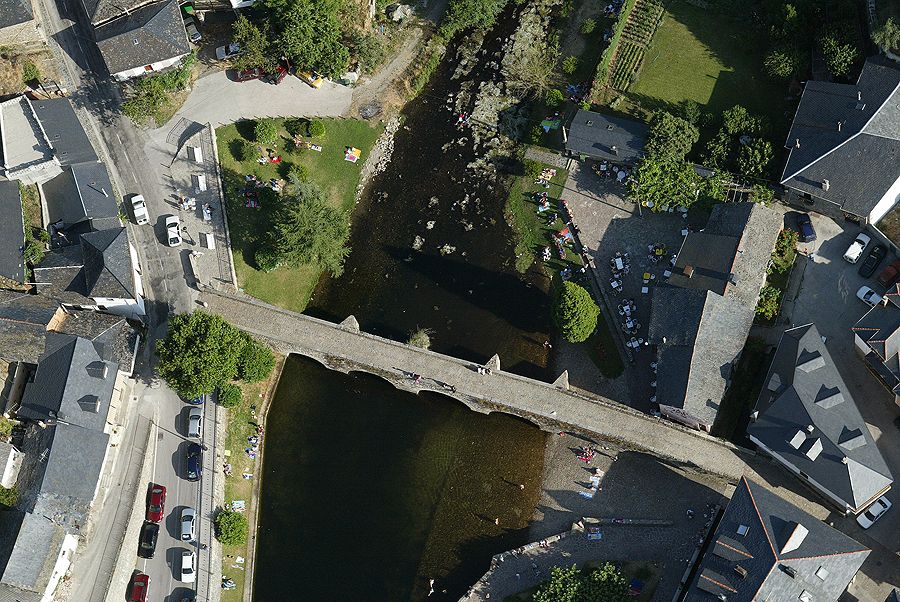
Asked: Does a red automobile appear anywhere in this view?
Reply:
Yes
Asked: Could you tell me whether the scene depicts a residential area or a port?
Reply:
residential area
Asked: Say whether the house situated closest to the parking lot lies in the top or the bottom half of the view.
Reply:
top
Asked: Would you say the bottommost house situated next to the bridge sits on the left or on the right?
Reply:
right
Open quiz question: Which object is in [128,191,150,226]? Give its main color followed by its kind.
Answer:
white car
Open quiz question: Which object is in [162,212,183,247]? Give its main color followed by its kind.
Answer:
white car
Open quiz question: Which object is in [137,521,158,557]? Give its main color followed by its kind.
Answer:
black car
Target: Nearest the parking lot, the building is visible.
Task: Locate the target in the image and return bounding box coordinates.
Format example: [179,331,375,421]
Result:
[93,0,198,84]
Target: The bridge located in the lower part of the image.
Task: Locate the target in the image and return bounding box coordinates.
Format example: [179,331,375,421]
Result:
[197,286,734,485]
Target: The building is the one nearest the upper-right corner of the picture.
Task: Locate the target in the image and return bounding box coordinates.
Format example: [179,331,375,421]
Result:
[780,58,900,234]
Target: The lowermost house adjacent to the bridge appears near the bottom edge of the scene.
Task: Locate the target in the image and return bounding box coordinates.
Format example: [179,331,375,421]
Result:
[664,476,872,602]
